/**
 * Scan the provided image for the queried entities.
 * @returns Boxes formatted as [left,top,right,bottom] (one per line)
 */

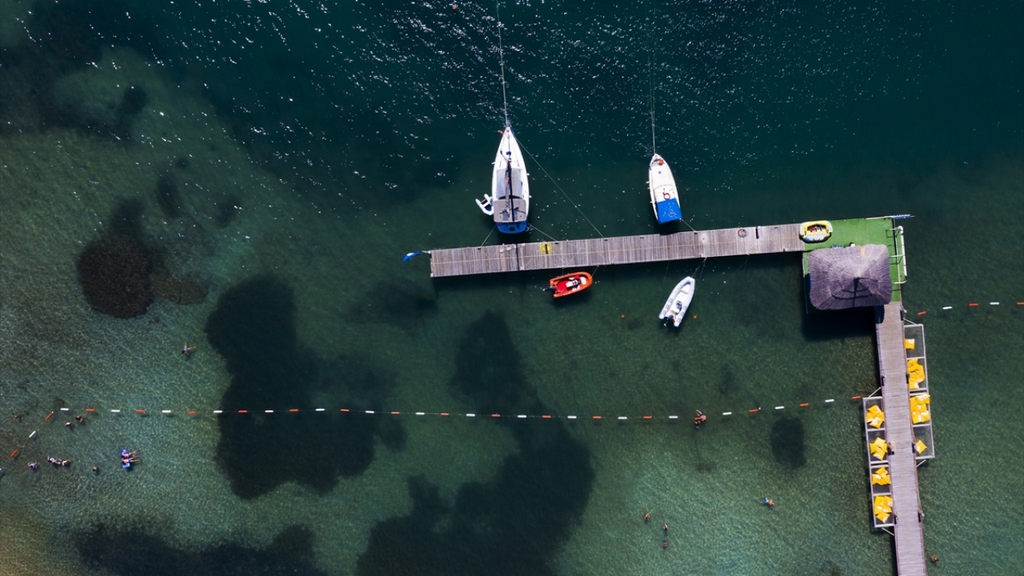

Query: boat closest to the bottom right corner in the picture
[660,277,696,329]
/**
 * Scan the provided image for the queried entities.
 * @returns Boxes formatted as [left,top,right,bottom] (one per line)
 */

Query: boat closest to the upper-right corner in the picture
[646,153,684,225]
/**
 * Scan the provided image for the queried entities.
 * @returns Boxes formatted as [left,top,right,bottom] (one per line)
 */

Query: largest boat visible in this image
[490,124,531,234]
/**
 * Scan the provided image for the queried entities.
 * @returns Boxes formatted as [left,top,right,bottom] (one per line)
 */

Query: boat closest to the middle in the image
[542,272,594,297]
